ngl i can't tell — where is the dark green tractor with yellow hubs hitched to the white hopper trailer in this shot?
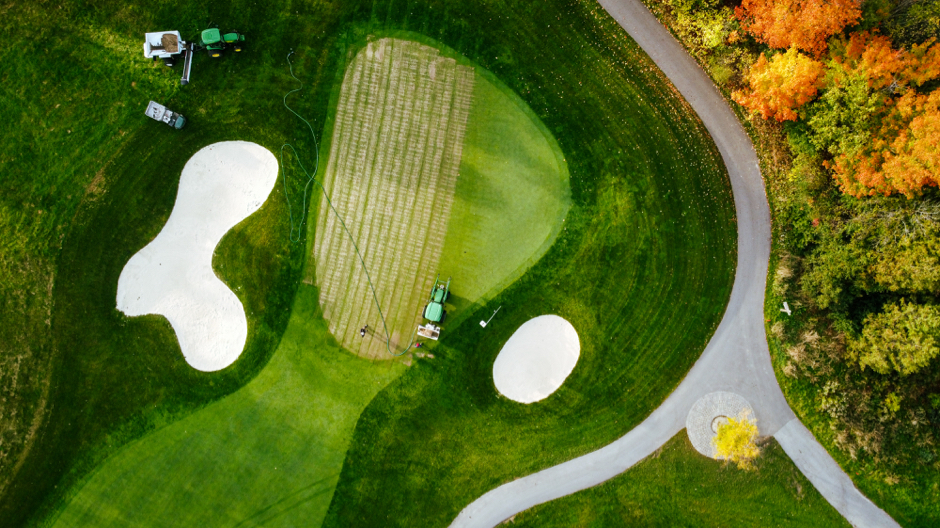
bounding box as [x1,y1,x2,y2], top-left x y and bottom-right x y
[196,26,248,58]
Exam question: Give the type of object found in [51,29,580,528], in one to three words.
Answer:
golf course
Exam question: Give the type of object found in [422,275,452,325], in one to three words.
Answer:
work vehicle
